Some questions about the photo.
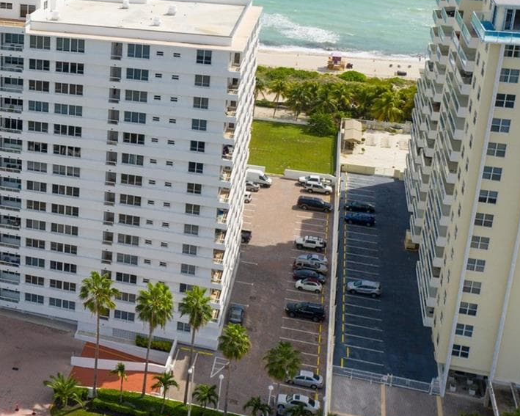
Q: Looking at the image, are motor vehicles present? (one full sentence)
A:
Yes, looking at the shot, I can spot a motor vehicle.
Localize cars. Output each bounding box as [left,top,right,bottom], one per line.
[287,303,325,323]
[300,198,330,213]
[285,370,324,391]
[296,277,323,293]
[245,181,266,194]
[345,212,377,228]
[292,268,328,282]
[296,251,329,266]
[294,259,329,274]
[241,229,255,244]
[228,303,245,324]
[294,235,326,253]
[304,183,333,197]
[277,392,321,415]
[244,191,258,205]
[346,201,376,214]
[347,280,384,298]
